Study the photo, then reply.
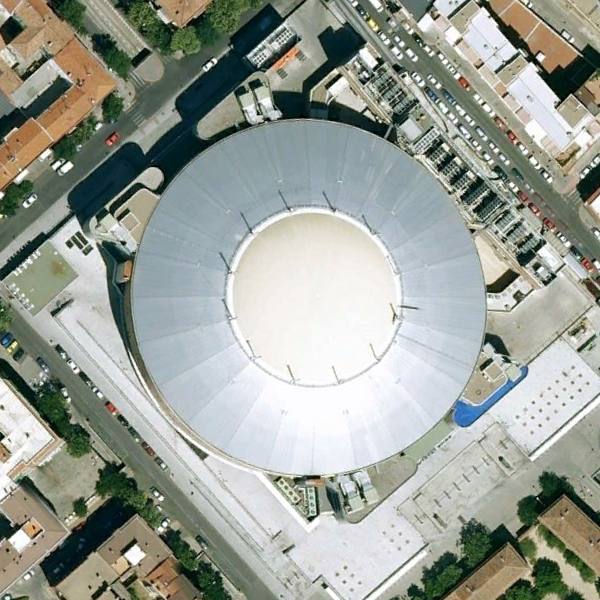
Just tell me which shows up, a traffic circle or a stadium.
stadium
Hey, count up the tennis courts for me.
0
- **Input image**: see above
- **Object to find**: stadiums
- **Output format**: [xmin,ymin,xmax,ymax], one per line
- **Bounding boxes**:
[81,71,529,533]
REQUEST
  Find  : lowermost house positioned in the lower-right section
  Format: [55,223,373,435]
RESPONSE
[441,542,530,600]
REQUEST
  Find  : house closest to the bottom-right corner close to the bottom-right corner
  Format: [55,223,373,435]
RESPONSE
[537,495,600,577]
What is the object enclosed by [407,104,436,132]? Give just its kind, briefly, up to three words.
building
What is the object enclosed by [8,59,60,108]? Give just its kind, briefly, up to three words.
house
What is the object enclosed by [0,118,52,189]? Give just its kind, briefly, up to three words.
house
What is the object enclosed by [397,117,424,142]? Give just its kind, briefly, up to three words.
building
